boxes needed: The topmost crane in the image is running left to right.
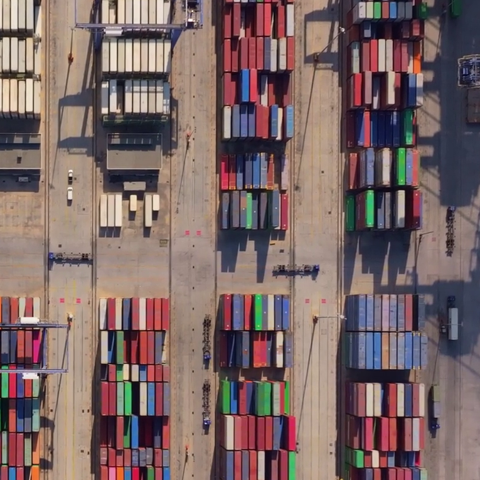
[75,0,207,54]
